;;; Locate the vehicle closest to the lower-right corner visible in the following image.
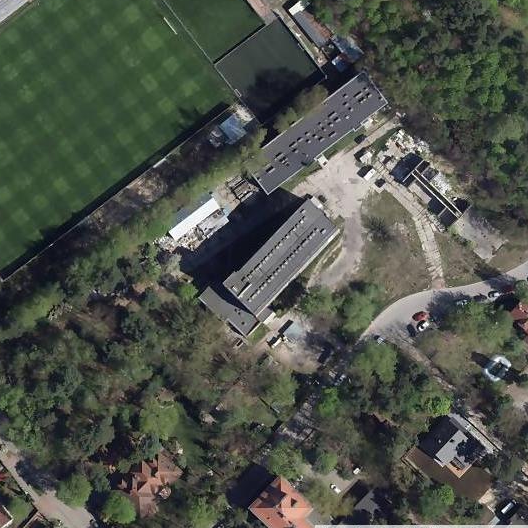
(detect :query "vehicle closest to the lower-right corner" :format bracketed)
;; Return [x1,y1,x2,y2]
[499,500,516,514]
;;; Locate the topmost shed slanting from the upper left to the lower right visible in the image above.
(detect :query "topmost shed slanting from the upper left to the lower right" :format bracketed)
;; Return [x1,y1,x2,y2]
[294,4,331,48]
